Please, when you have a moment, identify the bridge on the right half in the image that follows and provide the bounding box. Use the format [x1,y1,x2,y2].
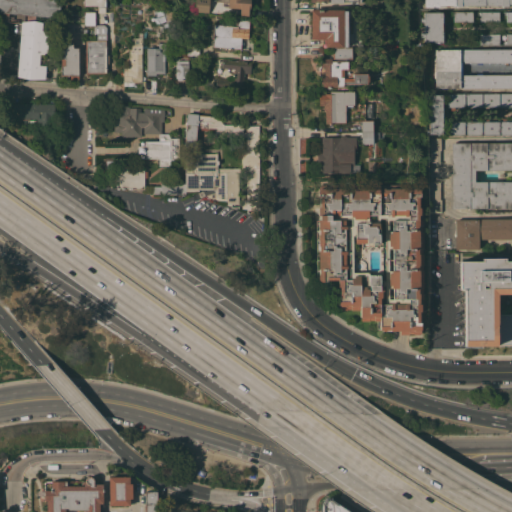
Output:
[232,404,512,512]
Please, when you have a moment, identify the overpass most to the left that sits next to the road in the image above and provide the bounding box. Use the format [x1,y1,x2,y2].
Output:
[24,342,114,442]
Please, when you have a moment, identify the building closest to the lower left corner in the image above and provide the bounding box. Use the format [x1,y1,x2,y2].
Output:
[46,476,105,512]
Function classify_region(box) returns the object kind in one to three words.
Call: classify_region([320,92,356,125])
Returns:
house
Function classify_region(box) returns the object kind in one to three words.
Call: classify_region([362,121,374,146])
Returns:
building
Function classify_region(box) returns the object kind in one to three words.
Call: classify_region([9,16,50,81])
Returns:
building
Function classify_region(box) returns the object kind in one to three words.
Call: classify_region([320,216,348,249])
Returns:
house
